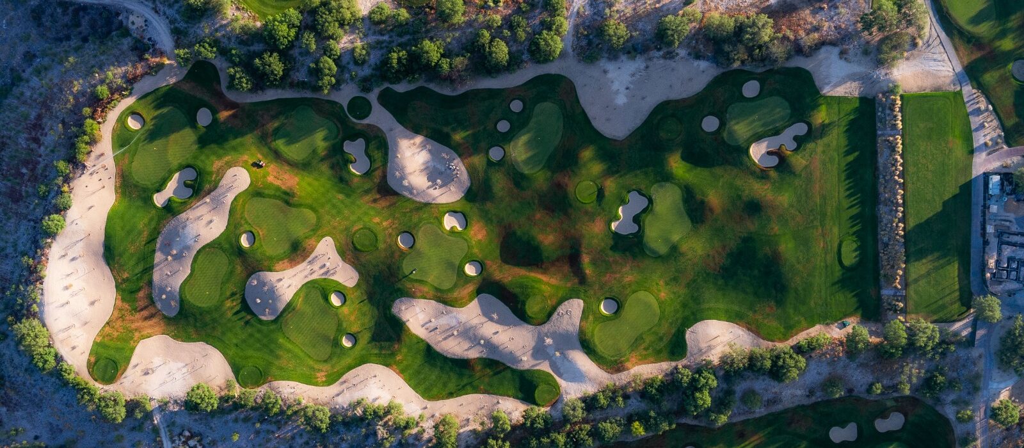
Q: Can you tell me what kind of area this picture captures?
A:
golf course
